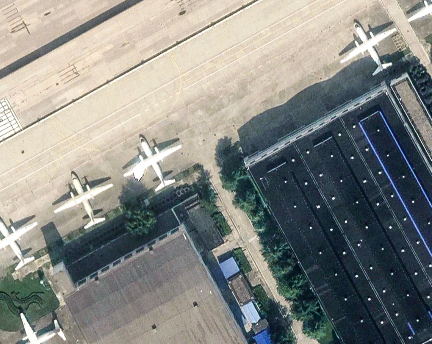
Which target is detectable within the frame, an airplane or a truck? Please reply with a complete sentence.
There is an airplane in the scene.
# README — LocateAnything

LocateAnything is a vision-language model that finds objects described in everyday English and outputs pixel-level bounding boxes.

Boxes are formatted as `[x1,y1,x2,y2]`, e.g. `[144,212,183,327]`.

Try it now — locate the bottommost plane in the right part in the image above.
[339,21,395,71]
